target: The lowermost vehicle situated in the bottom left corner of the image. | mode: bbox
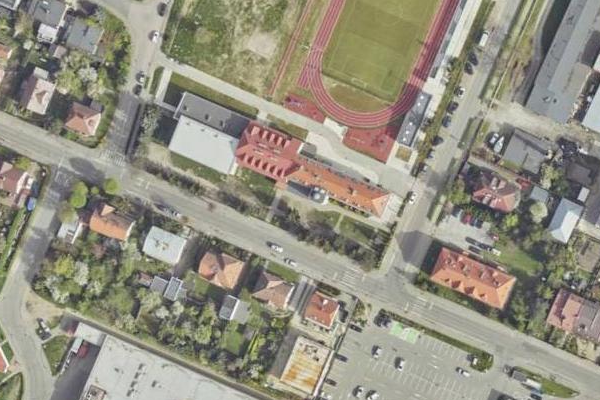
[72,338,86,359]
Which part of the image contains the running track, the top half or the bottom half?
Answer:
top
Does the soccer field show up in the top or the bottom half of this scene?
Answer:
top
